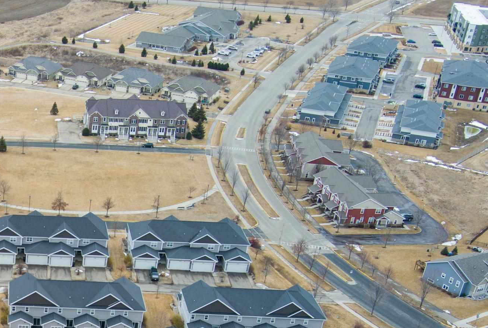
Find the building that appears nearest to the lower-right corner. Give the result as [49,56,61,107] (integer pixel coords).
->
[424,250,488,307]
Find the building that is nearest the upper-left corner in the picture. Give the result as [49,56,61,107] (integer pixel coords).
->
[7,58,63,81]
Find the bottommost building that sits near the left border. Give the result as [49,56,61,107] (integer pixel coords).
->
[4,270,146,328]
